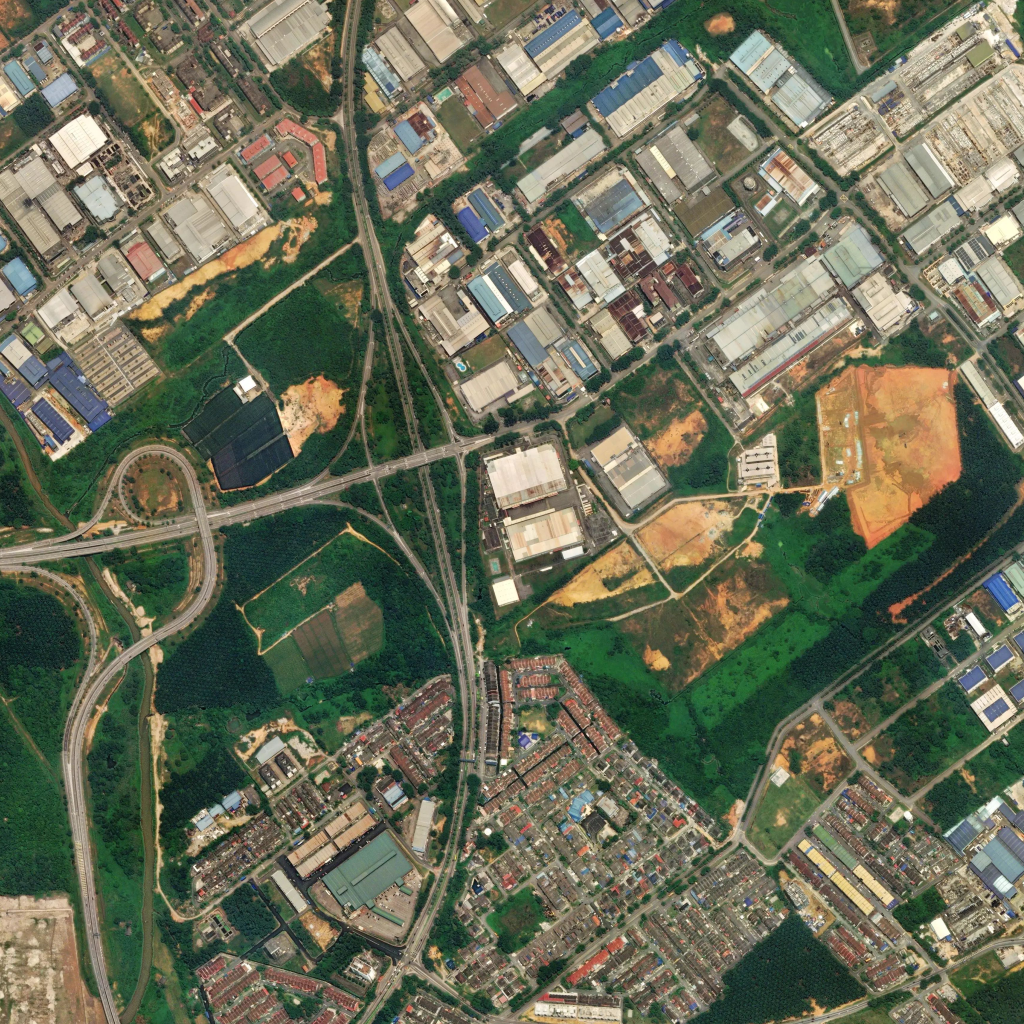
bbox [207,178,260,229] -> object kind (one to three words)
building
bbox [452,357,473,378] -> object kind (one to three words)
swimming pool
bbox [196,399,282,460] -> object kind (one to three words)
house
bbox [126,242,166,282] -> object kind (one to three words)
building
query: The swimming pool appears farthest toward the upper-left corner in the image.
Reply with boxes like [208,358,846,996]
[433,86,454,103]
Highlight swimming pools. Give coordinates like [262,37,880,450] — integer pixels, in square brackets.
[433,86,454,103]
[452,357,473,378]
